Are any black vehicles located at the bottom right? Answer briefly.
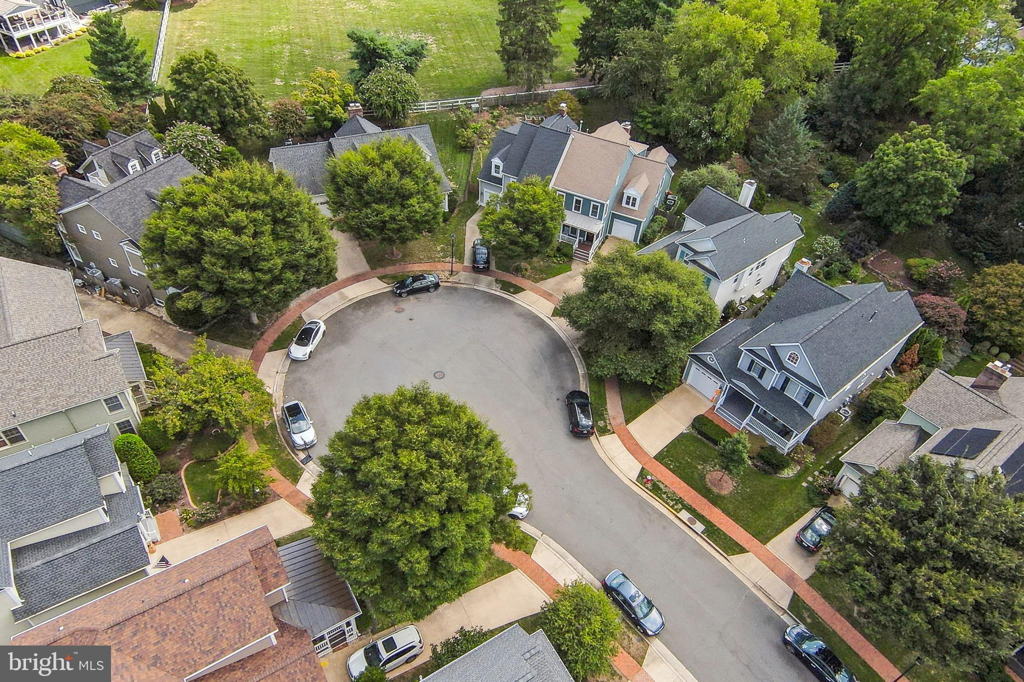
Yes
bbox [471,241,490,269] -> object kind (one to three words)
car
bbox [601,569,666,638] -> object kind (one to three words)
car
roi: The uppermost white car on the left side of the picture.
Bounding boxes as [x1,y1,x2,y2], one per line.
[289,320,325,361]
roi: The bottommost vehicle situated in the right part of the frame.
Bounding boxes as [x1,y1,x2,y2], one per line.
[779,623,857,682]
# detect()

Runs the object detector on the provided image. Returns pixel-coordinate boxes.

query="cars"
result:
[794,505,840,556]
[289,320,325,361]
[567,392,593,438]
[392,277,442,300]
[346,620,426,671]
[283,399,318,451]
[779,623,857,682]
[601,569,666,638]
[471,241,490,269]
